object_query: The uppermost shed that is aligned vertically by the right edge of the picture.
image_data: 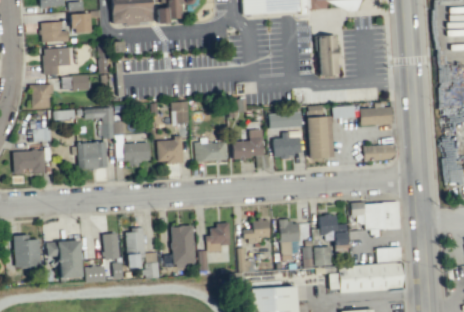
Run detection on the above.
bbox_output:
[440,132,458,184]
